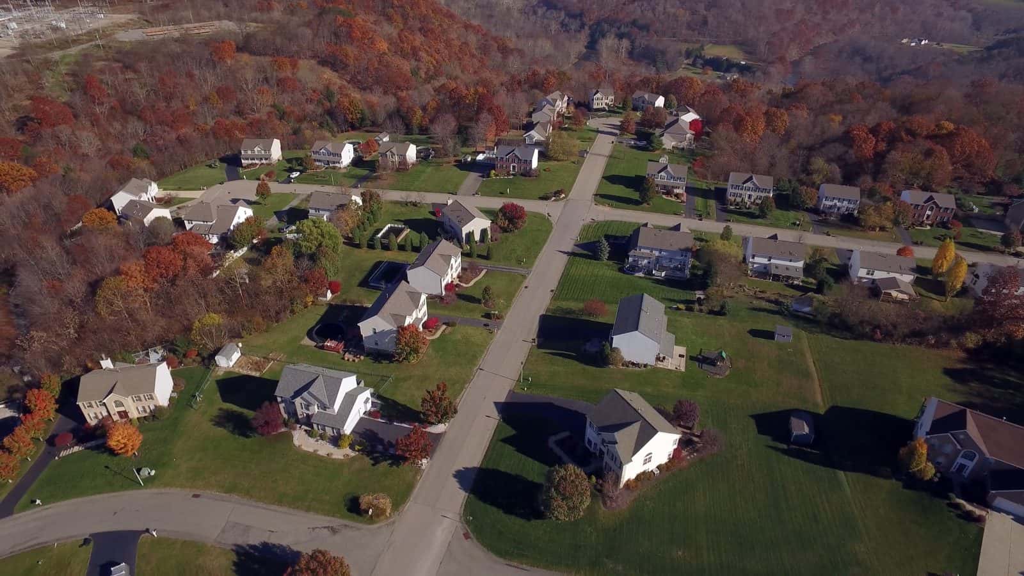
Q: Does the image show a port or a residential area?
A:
residential area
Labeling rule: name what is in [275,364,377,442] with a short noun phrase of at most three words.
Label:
house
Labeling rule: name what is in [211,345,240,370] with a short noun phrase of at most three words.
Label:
shed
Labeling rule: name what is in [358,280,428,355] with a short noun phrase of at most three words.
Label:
house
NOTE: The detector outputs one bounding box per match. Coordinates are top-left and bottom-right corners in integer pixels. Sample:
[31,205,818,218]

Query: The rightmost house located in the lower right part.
[886,389,1024,529]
